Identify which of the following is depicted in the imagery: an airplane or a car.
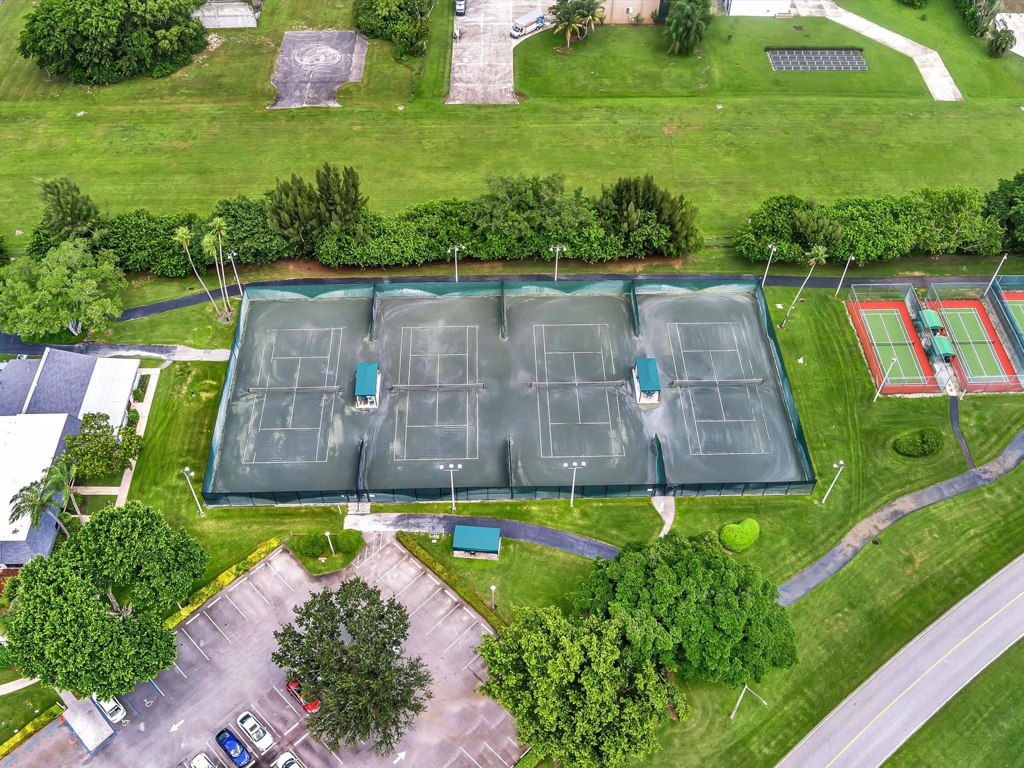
car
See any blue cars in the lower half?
Yes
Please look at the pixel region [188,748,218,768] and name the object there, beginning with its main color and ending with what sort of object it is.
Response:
white car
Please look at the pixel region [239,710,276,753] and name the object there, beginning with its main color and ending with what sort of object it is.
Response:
white car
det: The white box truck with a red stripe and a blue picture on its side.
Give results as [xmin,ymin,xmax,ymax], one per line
[514,6,549,37]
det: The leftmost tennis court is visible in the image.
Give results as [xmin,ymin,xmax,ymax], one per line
[210,298,376,506]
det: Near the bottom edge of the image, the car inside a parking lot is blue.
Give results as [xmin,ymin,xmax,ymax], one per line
[217,727,253,768]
